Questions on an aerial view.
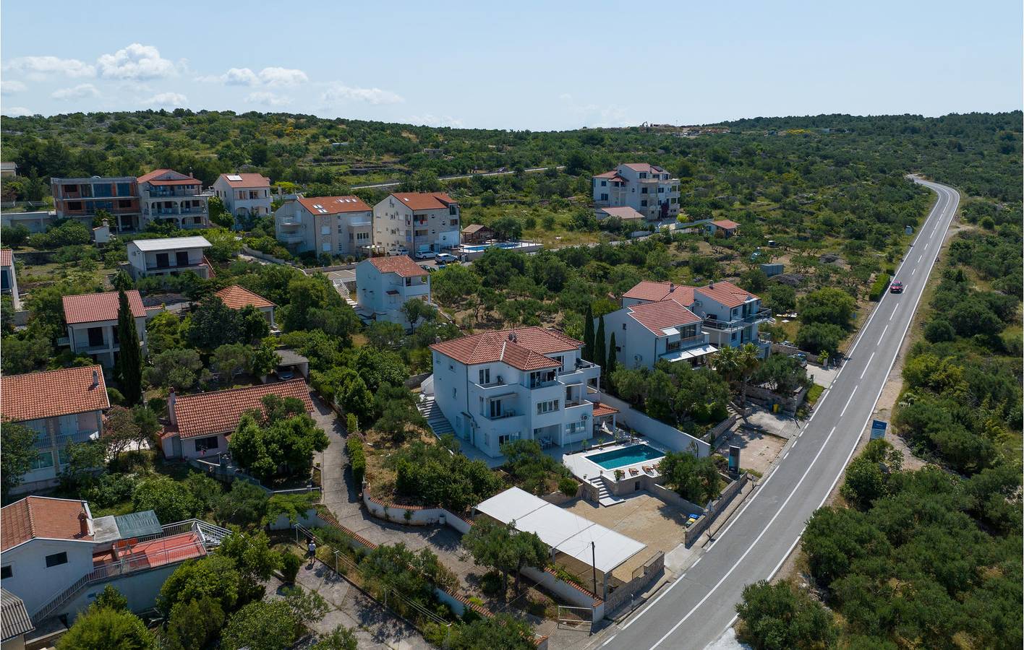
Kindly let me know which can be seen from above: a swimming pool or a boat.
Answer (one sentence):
Of the two, only a swimming pool appears.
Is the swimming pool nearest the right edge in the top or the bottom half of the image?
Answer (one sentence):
It is in the bottom half that the swimming pool nearest the right edge appears.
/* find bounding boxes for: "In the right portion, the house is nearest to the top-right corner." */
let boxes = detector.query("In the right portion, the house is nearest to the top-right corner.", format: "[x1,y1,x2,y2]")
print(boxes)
[709,217,741,235]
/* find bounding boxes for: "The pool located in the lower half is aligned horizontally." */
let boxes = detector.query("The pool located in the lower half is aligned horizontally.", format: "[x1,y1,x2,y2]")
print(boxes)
[582,442,671,471]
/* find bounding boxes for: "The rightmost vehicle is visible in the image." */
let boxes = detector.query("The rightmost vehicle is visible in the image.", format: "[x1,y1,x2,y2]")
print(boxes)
[889,279,904,291]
